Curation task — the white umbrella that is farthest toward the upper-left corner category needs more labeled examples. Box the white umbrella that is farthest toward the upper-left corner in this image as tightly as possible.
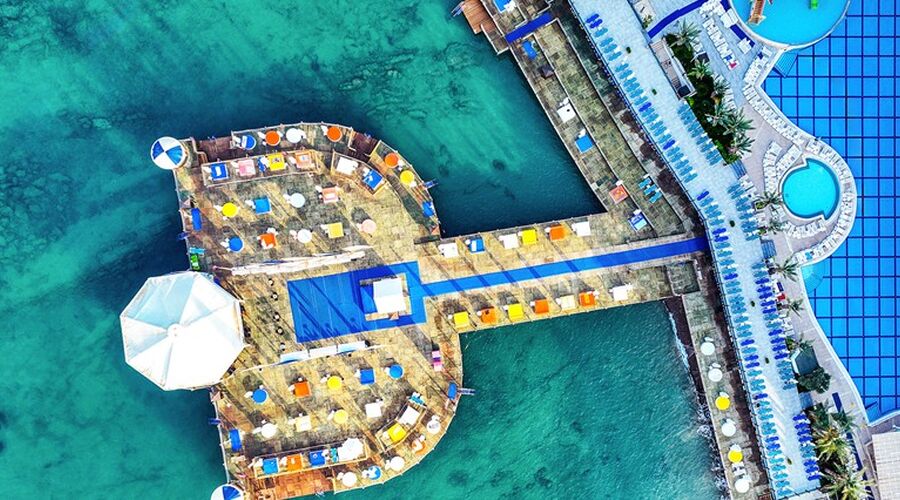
[151,136,185,170]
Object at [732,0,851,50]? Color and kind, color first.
blue swimming pool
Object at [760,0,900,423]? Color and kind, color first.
blue swimming pool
